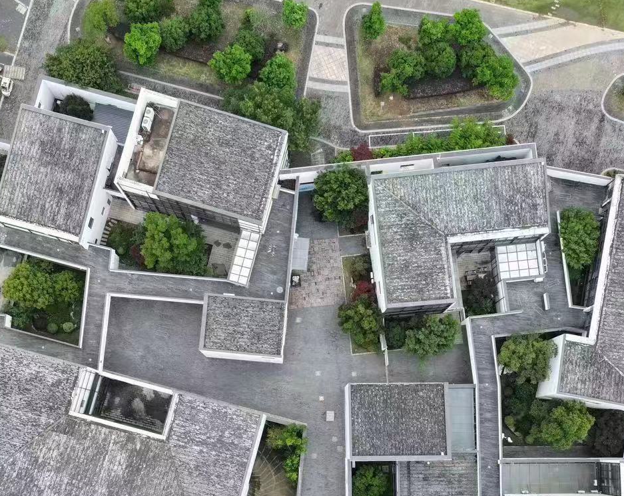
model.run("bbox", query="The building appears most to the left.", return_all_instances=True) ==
[0,103,118,249]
